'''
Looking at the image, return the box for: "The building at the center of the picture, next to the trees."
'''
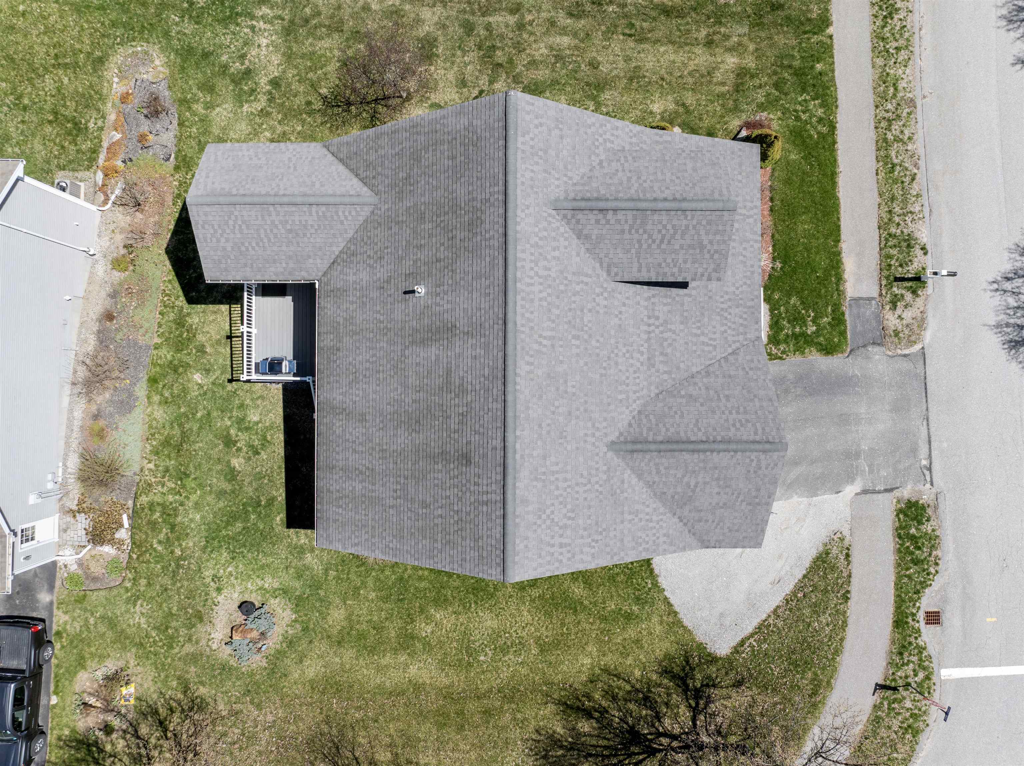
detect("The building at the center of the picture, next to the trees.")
[185,90,789,584]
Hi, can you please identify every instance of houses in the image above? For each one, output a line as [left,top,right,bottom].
[185,90,789,584]
[0,156,125,598]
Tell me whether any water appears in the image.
No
